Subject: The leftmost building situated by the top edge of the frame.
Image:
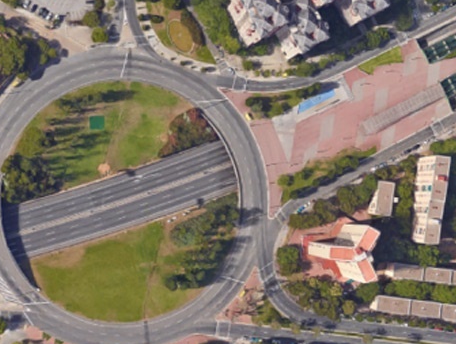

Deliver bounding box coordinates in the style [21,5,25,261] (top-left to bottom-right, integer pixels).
[228,0,287,53]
